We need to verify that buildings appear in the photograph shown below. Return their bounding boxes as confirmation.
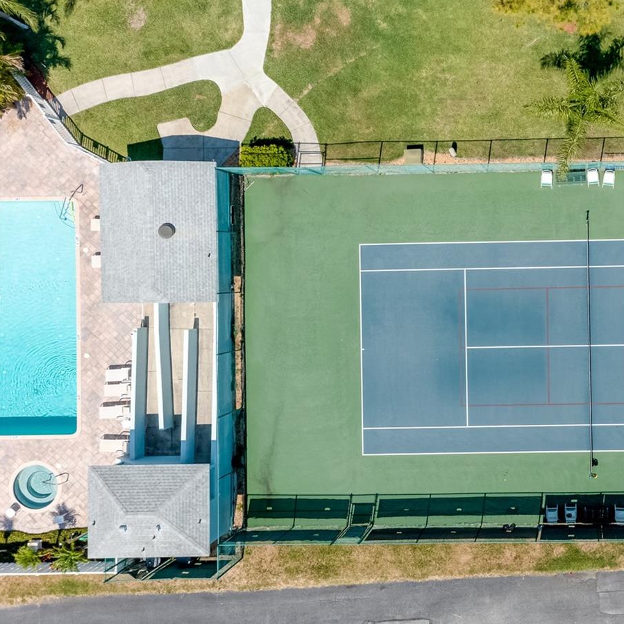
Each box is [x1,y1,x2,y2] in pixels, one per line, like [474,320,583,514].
[88,458,218,559]
[99,160,232,303]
